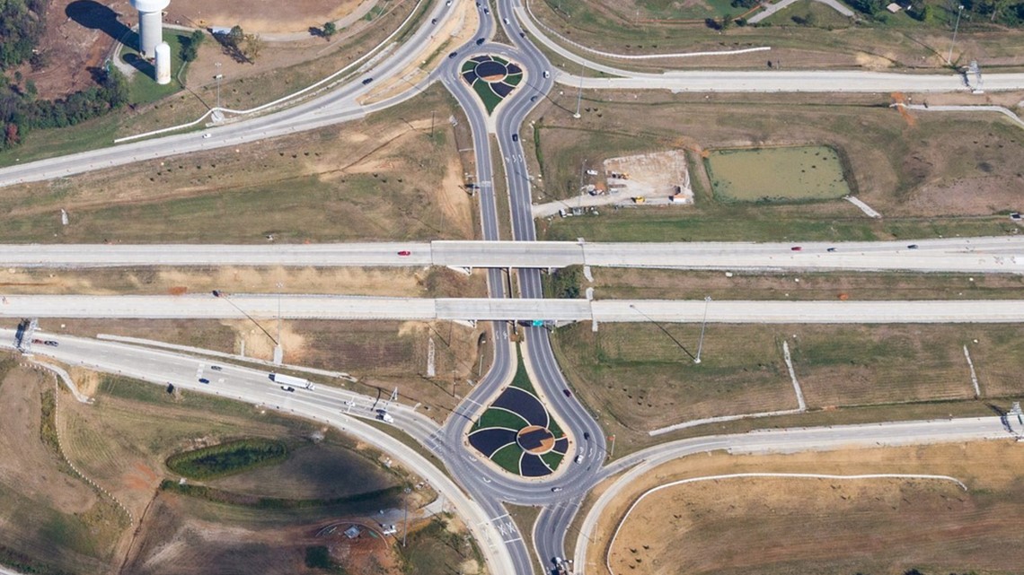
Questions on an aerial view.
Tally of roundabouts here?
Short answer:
two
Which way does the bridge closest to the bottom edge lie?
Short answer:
horizontally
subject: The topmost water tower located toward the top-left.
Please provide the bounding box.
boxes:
[127,0,171,60]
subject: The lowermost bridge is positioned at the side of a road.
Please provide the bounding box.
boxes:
[433,296,592,333]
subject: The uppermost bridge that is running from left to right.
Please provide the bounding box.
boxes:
[430,241,585,279]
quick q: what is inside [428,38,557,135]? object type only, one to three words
roundabout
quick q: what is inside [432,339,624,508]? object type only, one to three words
roundabout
